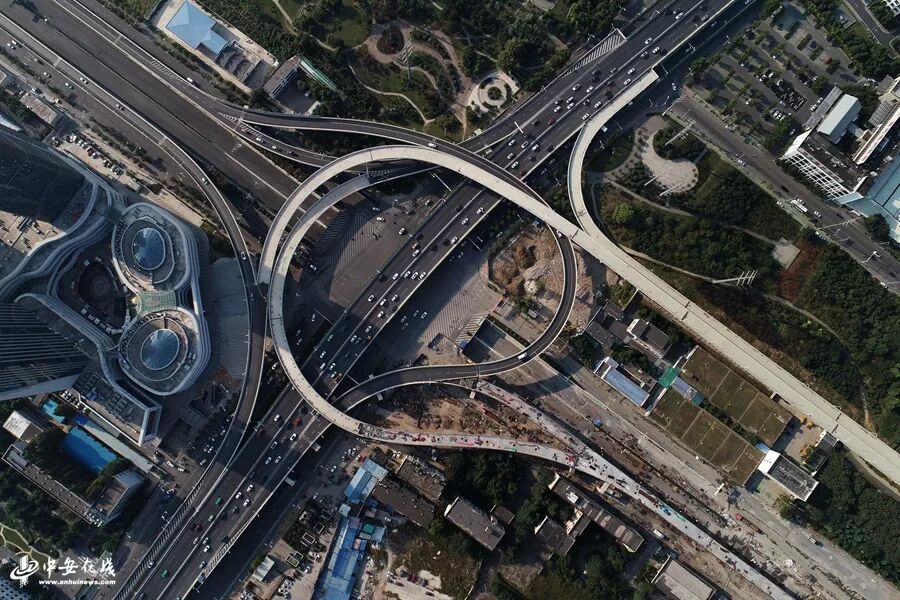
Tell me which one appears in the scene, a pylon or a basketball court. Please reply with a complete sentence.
This aerial view contains a pylon.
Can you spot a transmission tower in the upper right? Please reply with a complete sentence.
Yes, there is a transmission tower in the upper right.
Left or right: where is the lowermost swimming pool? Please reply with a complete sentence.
The lowermost swimming pool is on the left side of the image.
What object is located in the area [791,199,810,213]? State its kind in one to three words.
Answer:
vehicle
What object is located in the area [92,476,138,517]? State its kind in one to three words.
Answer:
building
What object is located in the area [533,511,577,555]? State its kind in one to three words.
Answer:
house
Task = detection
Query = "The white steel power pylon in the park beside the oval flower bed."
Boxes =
[396,51,414,83]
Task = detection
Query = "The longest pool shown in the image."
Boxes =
[62,427,118,474]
